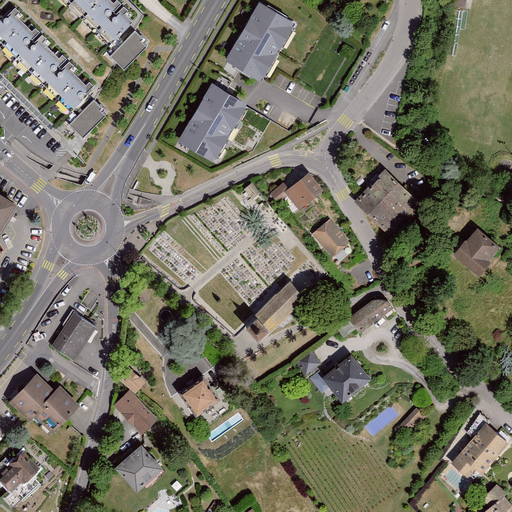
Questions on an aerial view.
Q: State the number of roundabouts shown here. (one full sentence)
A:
I count 1 roundabout.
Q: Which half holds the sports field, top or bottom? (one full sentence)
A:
It is in the top half that the sports field appears.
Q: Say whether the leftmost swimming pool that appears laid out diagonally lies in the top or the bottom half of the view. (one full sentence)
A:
The leftmost swimming pool that appears laid out diagonally sits in the bottom half of the picture.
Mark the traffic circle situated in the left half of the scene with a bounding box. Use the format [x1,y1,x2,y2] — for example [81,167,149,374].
[50,190,124,264]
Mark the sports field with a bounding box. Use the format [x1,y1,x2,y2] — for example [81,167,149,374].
[444,0,512,162]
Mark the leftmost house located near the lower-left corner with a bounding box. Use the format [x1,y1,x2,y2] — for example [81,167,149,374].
[0,451,42,494]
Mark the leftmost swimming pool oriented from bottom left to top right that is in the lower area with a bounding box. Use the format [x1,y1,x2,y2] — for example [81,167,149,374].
[210,413,244,442]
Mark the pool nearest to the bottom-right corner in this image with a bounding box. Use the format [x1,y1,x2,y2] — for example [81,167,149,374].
[444,468,463,488]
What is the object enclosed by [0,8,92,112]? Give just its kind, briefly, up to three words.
building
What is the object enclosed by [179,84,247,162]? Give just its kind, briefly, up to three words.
building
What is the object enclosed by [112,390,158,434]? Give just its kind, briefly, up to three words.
house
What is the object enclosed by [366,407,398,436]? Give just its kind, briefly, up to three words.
swimming pool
